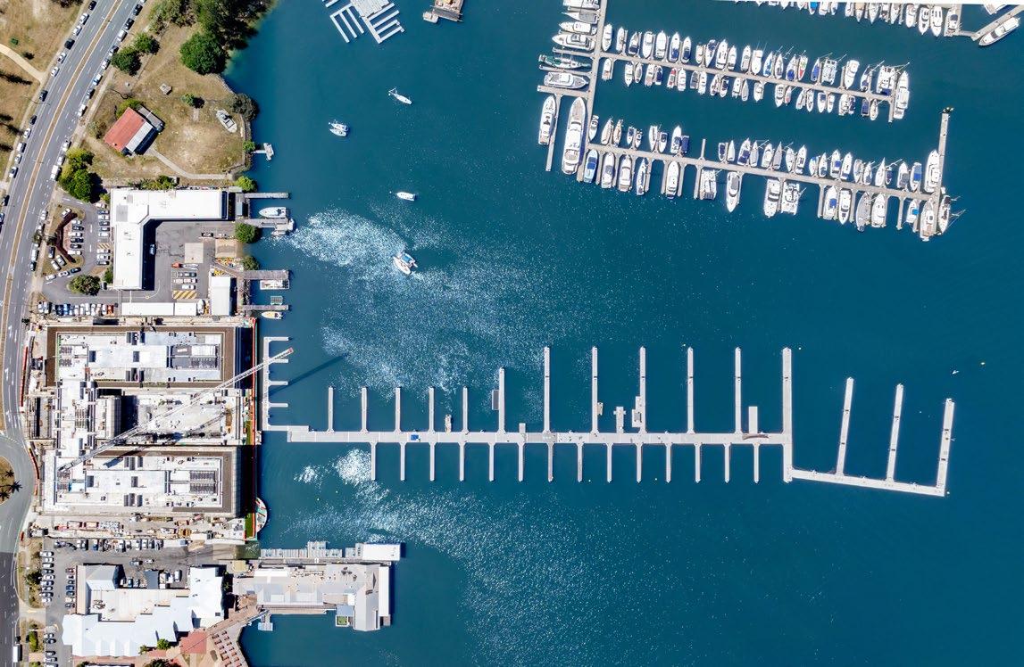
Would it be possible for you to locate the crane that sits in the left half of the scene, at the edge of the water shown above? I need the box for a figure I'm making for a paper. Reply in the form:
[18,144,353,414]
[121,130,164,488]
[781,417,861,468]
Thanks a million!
[56,347,293,473]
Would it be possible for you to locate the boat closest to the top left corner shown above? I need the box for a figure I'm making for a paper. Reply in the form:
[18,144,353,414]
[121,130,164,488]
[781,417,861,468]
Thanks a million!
[219,109,239,133]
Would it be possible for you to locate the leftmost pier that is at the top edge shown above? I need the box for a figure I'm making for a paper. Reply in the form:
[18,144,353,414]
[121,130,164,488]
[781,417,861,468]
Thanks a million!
[325,0,403,44]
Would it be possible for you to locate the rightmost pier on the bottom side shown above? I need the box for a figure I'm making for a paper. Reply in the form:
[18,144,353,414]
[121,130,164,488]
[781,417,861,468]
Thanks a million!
[790,378,954,496]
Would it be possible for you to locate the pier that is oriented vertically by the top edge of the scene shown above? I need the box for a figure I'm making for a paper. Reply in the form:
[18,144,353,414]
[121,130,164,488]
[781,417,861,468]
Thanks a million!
[537,0,606,182]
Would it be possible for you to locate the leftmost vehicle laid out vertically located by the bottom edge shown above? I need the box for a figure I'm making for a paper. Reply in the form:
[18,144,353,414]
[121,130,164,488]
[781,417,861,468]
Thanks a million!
[12,636,24,665]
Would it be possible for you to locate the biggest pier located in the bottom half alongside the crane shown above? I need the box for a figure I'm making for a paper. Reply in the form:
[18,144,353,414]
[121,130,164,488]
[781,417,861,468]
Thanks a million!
[268,347,913,485]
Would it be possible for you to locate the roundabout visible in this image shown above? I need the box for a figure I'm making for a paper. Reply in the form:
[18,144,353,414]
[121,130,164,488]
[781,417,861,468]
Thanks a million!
[0,432,34,553]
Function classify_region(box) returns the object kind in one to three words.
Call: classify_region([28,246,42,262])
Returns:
vehicle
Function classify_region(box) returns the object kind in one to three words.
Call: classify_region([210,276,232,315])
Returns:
shed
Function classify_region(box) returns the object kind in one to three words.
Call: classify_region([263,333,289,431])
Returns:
pier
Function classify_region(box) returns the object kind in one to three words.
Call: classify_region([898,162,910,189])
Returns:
boat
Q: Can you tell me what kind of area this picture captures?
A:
port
